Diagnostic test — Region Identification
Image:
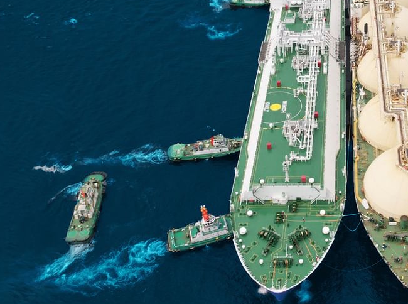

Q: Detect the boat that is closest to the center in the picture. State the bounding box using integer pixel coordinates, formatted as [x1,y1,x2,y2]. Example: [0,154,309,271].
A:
[167,125,242,162]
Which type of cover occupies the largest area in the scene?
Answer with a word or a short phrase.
water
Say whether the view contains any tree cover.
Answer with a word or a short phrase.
No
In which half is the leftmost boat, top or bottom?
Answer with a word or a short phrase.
bottom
